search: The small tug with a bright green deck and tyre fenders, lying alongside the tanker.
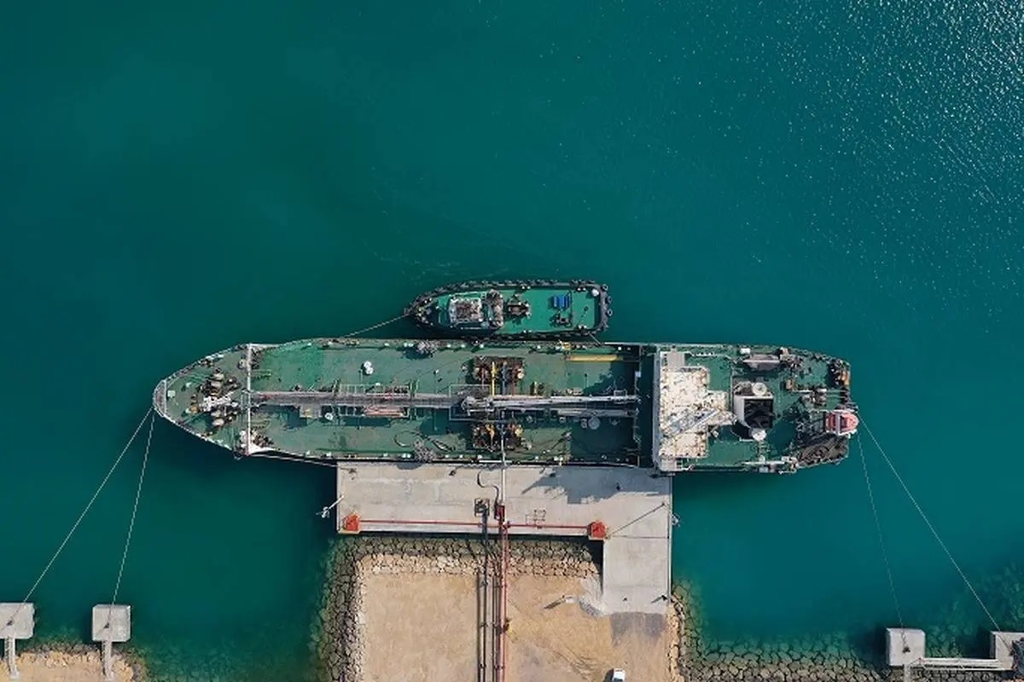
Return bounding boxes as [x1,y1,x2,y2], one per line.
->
[404,278,614,341]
